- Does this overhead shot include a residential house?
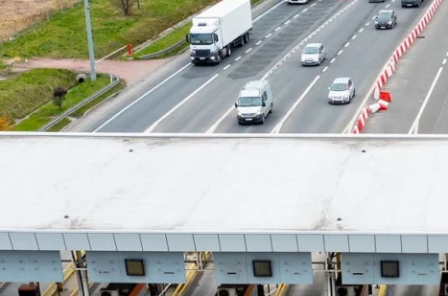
No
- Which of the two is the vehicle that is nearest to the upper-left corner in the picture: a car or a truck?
truck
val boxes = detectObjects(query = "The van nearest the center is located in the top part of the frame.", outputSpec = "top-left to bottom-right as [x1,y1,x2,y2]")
[239,82,275,121]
